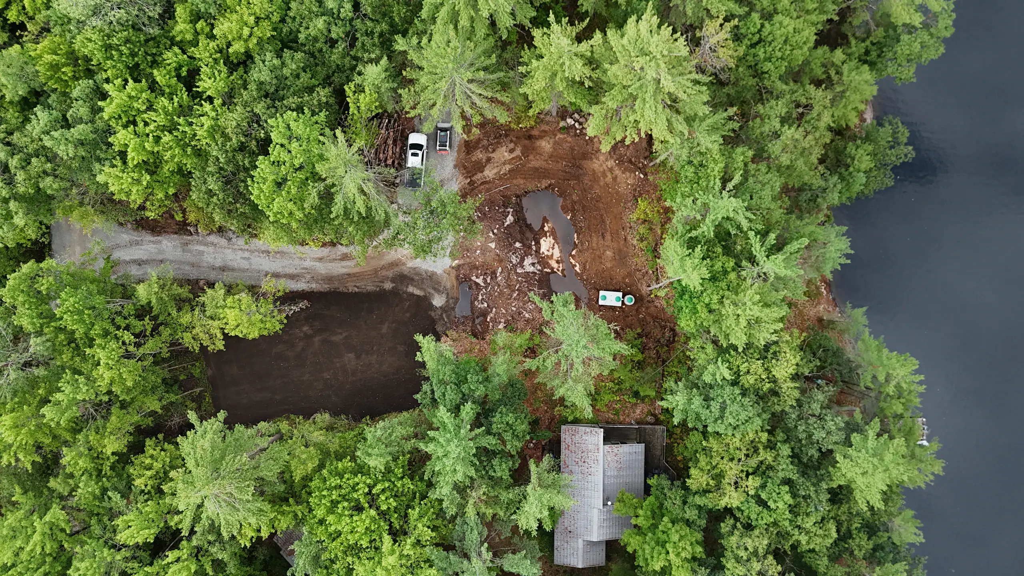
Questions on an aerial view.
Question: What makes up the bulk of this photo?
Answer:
trees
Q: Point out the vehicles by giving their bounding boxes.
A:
[404,132,428,192]
[435,124,453,154]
